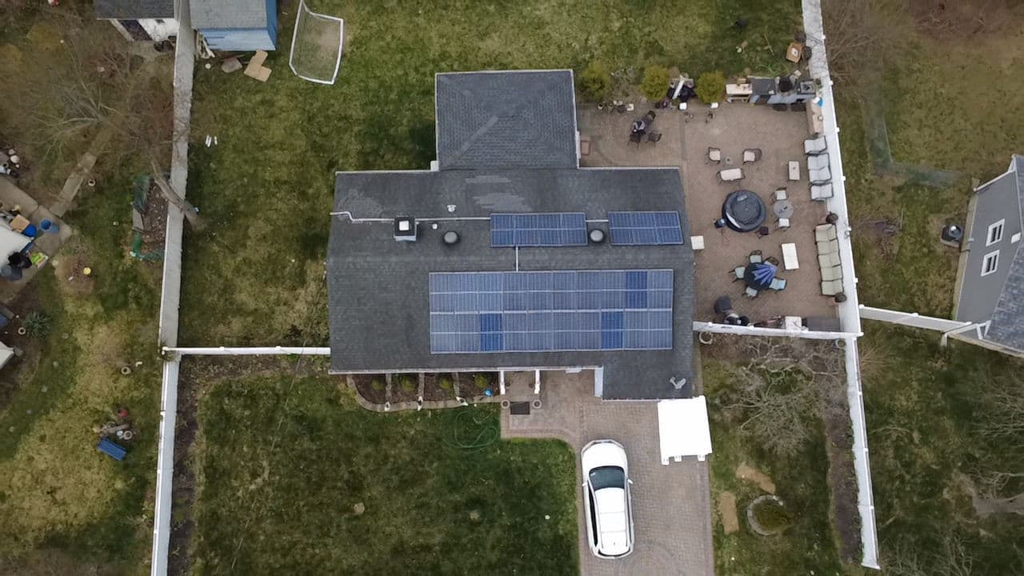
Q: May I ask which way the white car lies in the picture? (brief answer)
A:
from top to bottom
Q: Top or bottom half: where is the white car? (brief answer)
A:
bottom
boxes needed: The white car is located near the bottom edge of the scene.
[582,438,635,559]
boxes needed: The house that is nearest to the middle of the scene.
[326,68,693,402]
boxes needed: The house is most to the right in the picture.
[948,160,1024,347]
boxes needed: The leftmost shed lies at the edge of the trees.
[96,0,176,42]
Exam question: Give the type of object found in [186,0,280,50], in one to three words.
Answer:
shed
